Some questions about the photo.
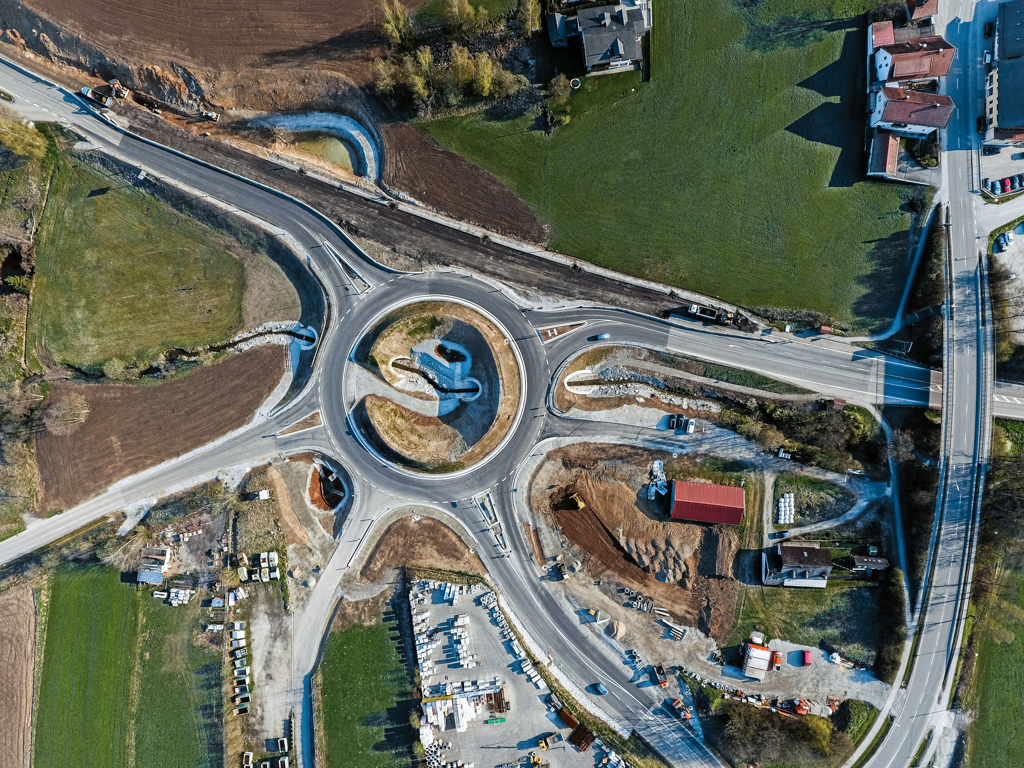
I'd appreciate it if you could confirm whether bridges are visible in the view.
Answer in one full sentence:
Yes, I can see a bridge in this picture.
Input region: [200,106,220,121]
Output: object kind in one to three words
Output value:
work vehicle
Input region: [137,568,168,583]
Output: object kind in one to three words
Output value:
shed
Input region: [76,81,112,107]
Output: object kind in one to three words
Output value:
truck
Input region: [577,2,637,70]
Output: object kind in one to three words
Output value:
house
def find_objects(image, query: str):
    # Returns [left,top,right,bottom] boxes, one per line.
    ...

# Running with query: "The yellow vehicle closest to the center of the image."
[568,490,586,511]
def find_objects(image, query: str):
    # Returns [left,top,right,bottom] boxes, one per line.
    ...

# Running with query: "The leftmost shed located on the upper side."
[546,13,568,46]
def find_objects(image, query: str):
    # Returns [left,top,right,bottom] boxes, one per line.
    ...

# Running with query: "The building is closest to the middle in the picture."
[669,479,744,525]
